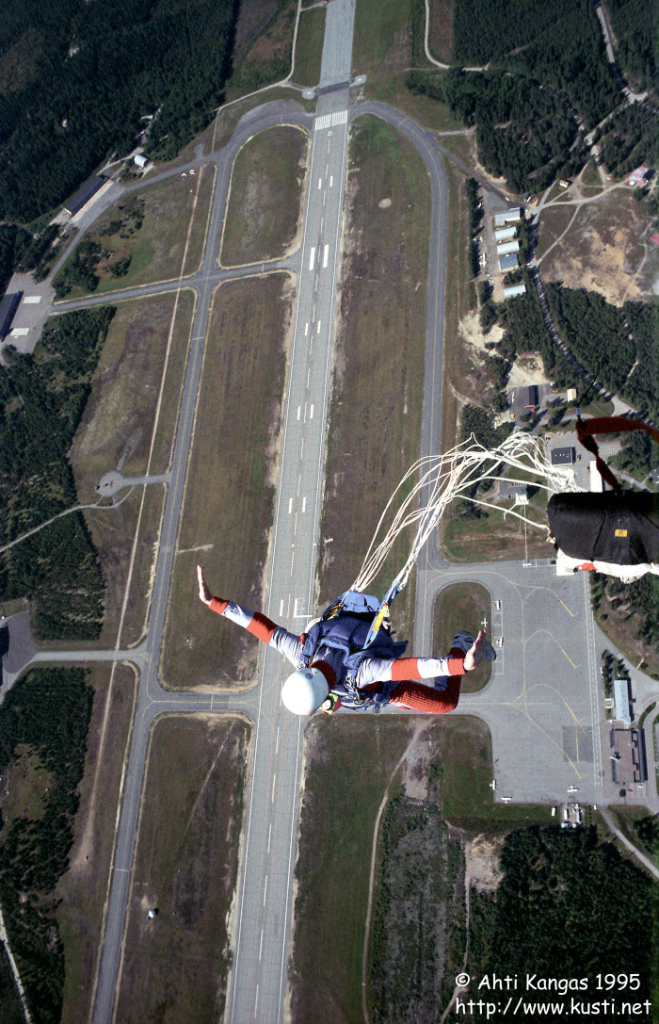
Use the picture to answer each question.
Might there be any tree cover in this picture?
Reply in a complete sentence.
Yes, tree cover can be seen from above here.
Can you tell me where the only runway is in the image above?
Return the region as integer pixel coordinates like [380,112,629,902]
[228,93,350,1024]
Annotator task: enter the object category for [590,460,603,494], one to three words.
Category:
building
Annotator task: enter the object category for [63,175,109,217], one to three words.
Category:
hangar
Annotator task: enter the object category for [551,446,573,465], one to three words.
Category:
building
